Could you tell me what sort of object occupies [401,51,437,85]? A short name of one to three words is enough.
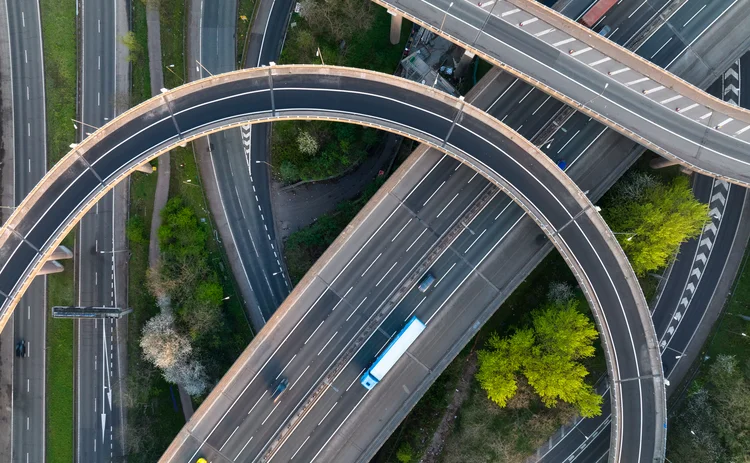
building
